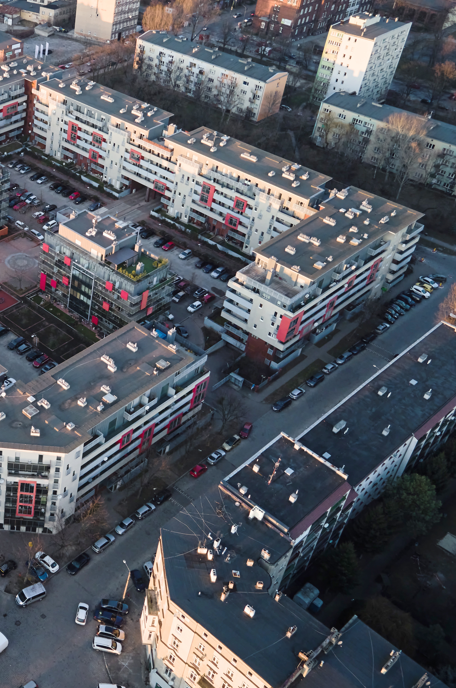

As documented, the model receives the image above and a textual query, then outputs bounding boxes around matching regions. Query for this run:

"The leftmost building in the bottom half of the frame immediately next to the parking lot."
[0,322,196,535]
